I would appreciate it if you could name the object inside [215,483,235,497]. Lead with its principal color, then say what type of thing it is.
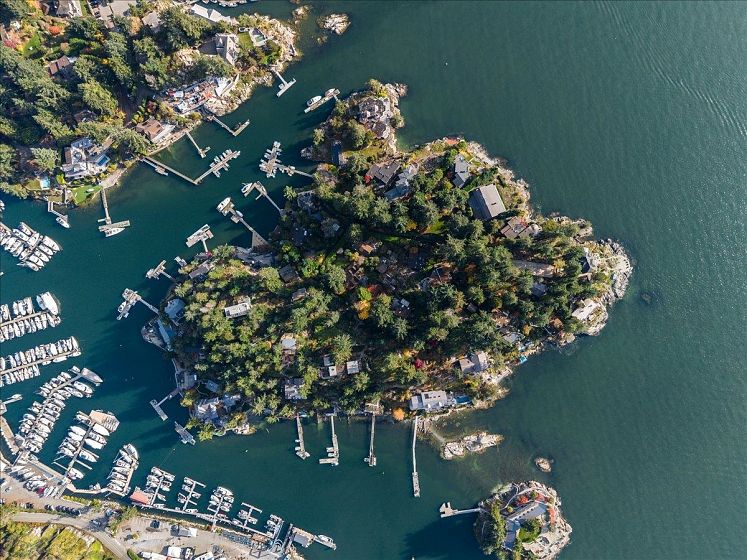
white boat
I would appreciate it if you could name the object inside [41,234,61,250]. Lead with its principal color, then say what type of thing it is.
white boat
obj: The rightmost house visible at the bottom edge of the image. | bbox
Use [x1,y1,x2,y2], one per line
[498,497,554,551]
